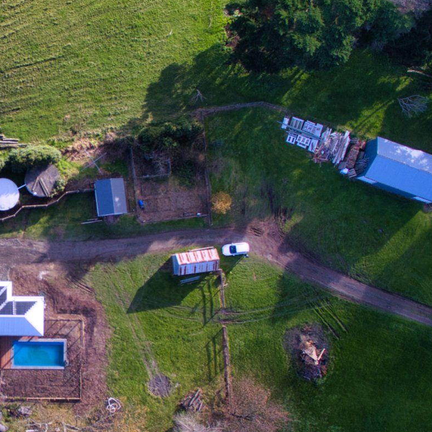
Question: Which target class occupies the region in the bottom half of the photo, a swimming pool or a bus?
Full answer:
The one visible in the bottom half of the photo is a swimming pool.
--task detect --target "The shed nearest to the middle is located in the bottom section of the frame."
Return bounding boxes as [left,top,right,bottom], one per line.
[171,249,219,276]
